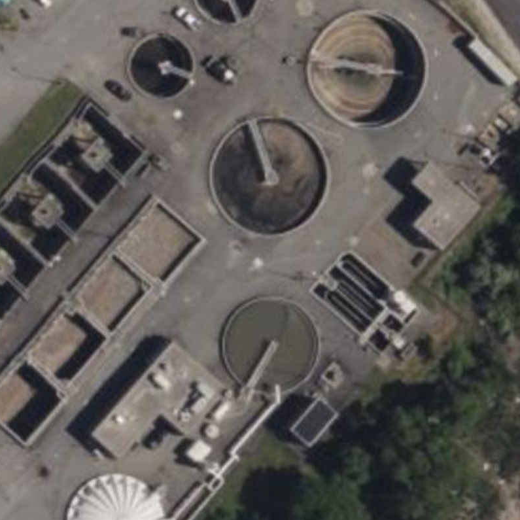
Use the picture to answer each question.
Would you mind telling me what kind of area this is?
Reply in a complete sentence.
It's an industrial area.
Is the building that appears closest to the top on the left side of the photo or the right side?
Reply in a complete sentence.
It is on the right.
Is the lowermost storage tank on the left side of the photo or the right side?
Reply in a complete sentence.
The lowermost storage tank is on the left side of the image.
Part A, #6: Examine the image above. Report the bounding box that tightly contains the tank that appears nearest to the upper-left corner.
[129,34,194,99]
